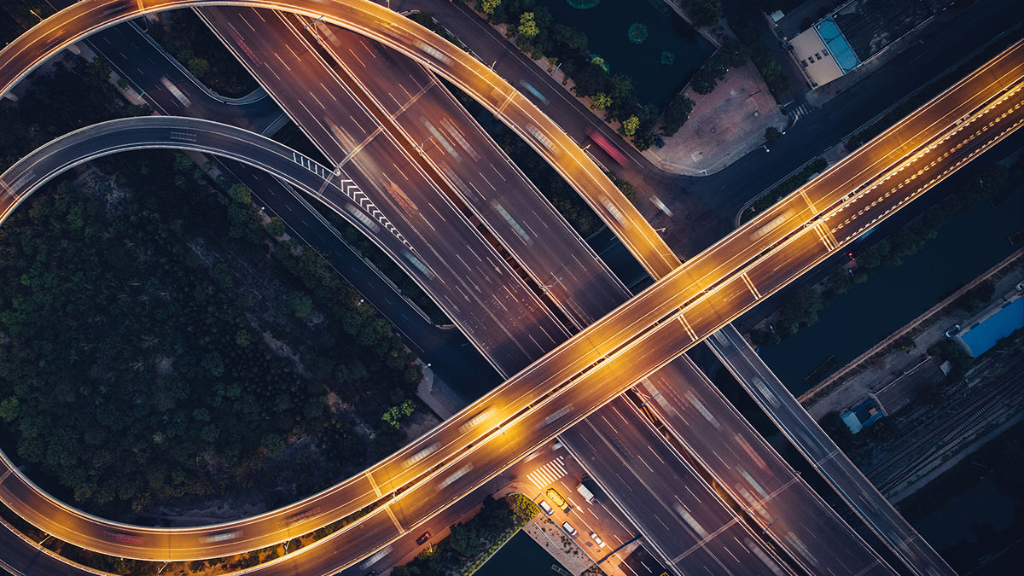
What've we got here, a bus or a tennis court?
bus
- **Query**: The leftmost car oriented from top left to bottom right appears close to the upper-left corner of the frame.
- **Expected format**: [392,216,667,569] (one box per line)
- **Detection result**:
[168,84,186,101]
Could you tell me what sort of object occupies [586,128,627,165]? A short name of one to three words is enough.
bus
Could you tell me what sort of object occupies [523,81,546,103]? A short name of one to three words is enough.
vehicle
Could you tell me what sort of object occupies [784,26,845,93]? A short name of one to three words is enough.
building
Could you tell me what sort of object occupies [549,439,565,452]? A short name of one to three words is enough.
vehicle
